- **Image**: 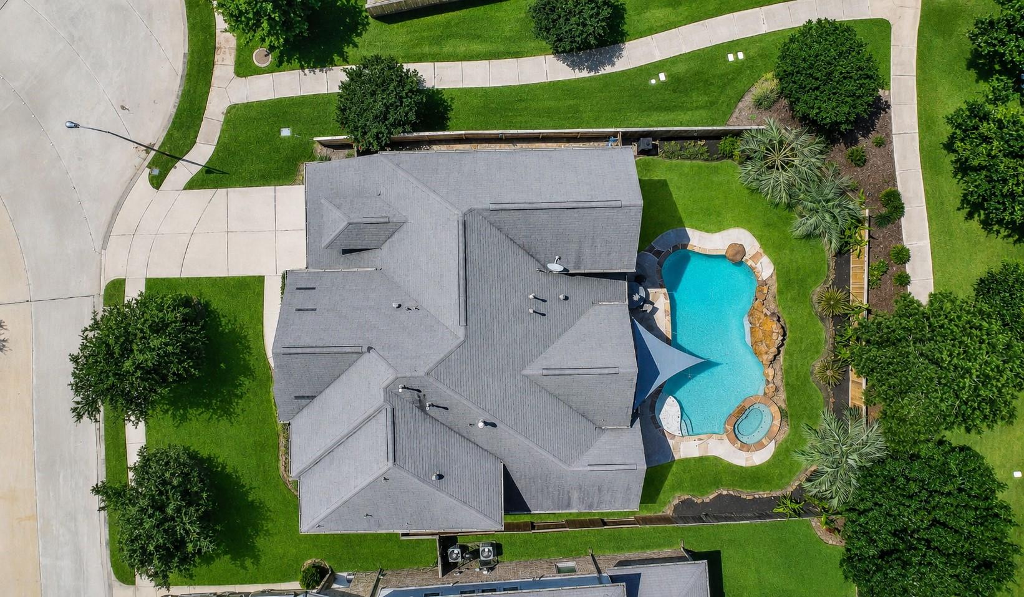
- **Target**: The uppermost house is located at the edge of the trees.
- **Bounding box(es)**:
[272,145,647,535]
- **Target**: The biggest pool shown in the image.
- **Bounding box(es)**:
[648,242,766,443]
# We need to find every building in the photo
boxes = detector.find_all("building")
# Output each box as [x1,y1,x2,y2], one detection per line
[360,557,711,597]
[272,145,647,535]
